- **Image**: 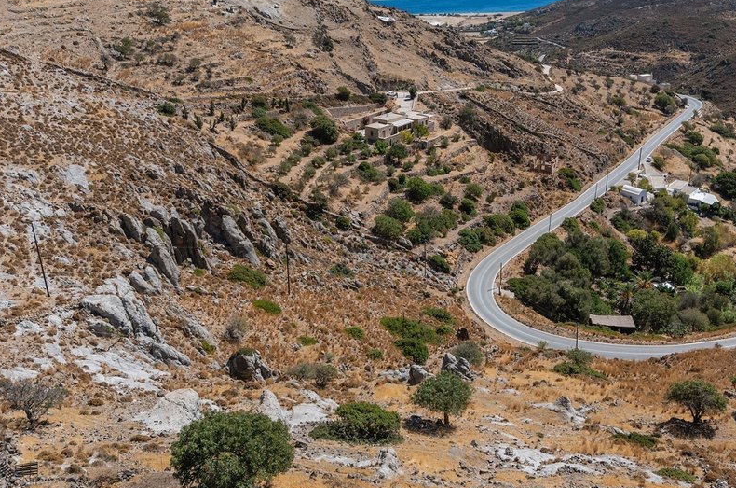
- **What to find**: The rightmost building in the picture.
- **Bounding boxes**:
[666,181,729,206]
